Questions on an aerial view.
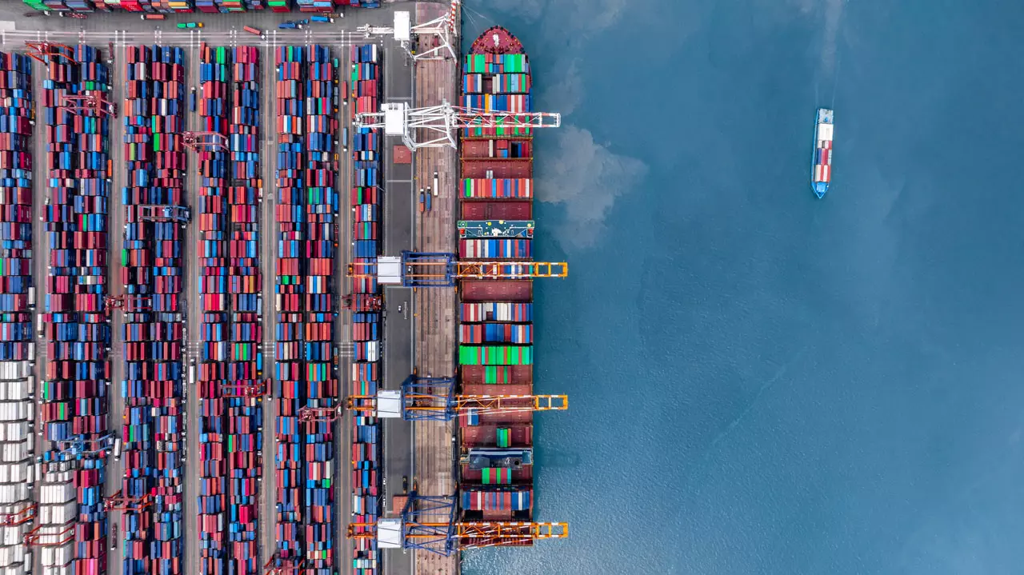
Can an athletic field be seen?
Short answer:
No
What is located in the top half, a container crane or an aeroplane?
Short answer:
container crane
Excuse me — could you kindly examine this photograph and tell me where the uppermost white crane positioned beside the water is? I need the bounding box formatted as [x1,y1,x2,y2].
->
[357,0,463,76]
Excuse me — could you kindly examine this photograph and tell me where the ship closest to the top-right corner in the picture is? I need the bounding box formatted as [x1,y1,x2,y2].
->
[810,108,834,199]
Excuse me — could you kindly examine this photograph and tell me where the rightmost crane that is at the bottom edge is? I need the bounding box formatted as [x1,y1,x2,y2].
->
[348,485,568,555]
